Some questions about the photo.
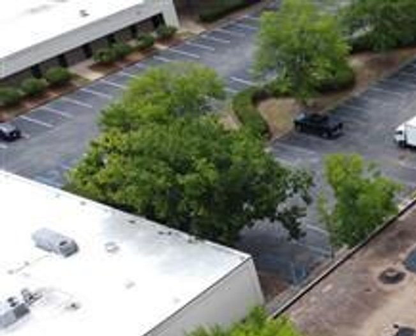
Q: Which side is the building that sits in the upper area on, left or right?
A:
left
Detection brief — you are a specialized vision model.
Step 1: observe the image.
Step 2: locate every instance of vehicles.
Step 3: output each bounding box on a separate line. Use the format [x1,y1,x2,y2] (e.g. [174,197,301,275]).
[0,119,19,140]
[296,107,350,135]
[391,118,416,148]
